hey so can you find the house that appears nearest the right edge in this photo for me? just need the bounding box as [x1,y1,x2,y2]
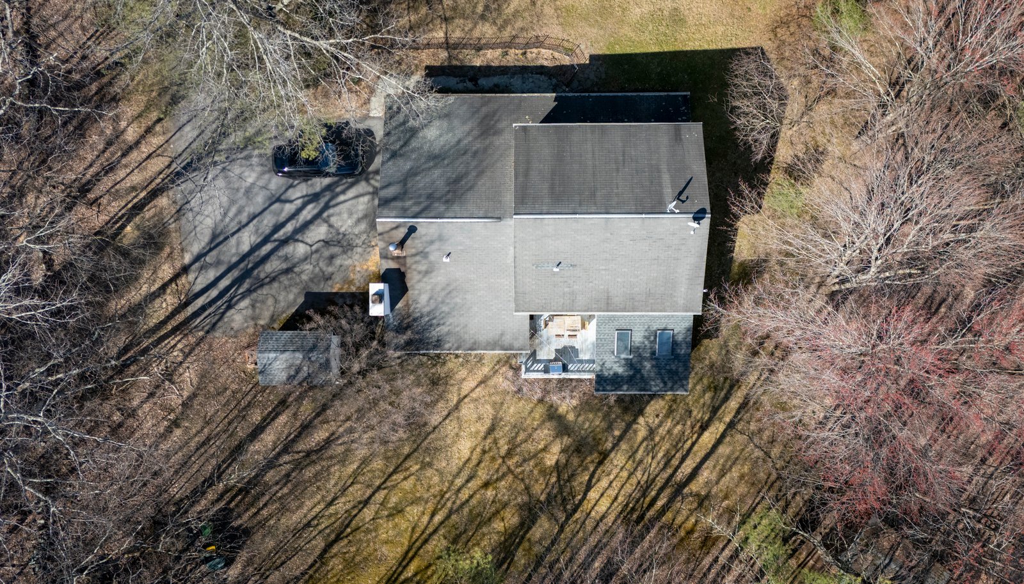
[370,92,713,395]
